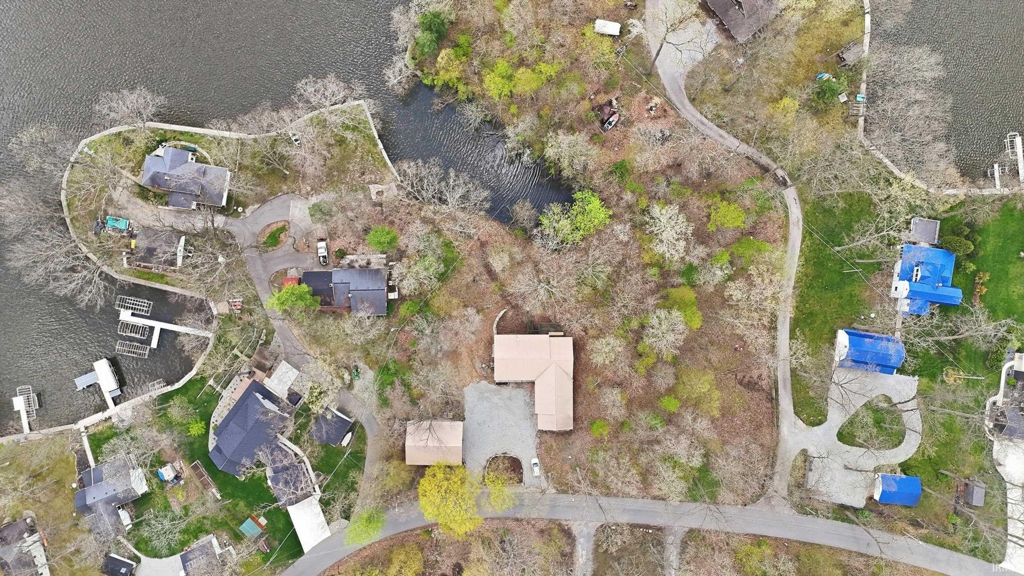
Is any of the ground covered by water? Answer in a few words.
Yes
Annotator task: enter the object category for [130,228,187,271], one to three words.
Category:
house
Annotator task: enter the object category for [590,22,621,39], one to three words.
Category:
vehicle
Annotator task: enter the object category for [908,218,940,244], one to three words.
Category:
shed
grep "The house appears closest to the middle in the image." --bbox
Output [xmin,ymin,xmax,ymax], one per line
[491,322,574,431]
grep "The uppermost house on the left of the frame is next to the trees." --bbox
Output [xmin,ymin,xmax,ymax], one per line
[141,145,234,210]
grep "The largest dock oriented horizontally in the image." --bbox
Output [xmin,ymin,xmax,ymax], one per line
[119,310,211,348]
